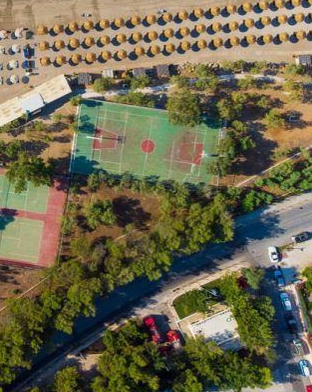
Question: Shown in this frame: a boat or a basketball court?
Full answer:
Visible in the photo is a basketball court.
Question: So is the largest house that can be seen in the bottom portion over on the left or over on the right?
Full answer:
It is on the right.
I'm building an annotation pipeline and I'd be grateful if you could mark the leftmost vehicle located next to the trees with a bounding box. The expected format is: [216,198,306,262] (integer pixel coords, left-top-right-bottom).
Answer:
[140,315,162,344]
